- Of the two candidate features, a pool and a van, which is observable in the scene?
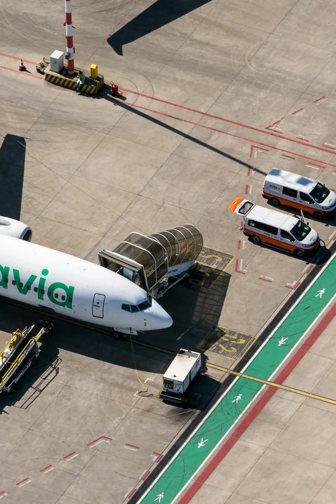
van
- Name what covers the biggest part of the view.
paved ground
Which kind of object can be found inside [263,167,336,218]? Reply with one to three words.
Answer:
van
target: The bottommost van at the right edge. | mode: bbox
[230,197,321,261]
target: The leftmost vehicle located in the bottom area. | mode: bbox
[0,313,52,396]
